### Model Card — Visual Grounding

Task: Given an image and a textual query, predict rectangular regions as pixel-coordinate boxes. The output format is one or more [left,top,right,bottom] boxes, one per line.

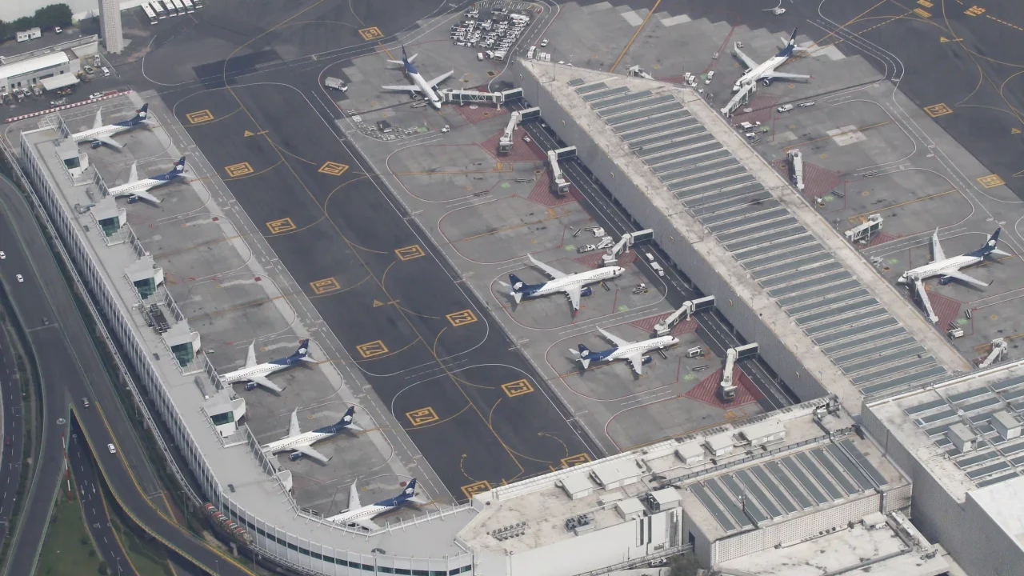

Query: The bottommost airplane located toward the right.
[569,325,679,374]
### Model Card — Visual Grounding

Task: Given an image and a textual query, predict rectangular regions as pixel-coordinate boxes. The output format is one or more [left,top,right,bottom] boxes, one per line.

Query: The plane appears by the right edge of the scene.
[898,226,1013,285]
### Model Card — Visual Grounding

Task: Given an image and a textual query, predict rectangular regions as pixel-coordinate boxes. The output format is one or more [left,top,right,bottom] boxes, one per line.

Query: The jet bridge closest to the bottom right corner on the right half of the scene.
[974,338,1005,371]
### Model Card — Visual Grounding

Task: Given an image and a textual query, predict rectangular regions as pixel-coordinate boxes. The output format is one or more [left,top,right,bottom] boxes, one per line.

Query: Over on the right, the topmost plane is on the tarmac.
[732,28,813,91]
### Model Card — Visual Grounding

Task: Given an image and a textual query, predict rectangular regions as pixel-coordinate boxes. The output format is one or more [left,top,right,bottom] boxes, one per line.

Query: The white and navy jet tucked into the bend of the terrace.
[323,477,428,531]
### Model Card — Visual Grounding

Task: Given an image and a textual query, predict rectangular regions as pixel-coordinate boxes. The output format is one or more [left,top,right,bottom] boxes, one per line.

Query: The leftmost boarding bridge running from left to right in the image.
[438,88,524,117]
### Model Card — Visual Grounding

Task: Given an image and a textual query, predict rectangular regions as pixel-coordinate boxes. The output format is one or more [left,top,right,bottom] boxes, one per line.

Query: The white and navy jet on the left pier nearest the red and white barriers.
[66,104,157,149]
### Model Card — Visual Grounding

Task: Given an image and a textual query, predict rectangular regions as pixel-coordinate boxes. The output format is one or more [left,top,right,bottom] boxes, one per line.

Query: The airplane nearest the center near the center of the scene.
[499,251,625,309]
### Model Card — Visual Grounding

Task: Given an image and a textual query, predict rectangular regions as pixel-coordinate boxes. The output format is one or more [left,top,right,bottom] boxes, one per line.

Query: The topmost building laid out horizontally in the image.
[14,25,41,42]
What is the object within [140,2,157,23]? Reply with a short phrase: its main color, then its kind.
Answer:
white vehicle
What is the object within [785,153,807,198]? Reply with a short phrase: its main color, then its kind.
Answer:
white jet bridge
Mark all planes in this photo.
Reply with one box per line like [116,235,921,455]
[323,477,428,531]
[898,226,1013,285]
[217,336,319,390]
[66,104,157,149]
[499,251,625,309]
[102,157,194,204]
[569,325,679,374]
[260,404,365,461]
[379,47,453,109]
[732,28,813,91]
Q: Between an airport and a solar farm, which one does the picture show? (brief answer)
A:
airport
